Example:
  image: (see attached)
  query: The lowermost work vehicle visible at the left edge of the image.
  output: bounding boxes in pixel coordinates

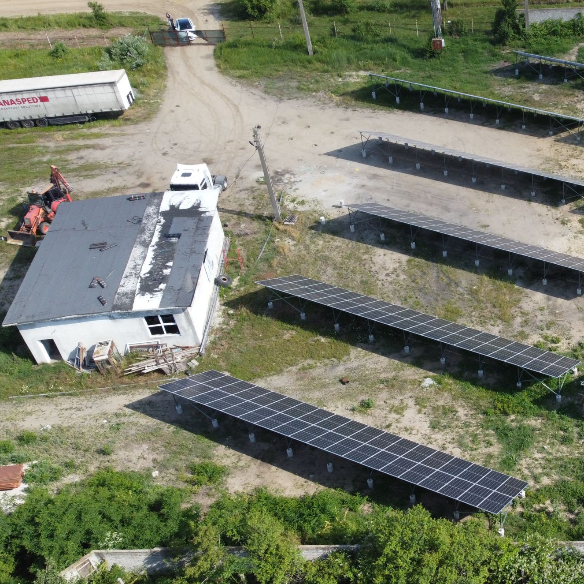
[6,161,84,247]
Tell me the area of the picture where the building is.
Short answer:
left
